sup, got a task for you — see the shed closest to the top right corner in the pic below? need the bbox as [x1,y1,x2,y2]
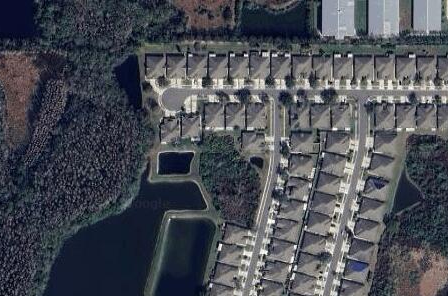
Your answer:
[413,0,441,33]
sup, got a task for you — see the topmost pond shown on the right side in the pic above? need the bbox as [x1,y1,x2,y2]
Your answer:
[241,0,308,37]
